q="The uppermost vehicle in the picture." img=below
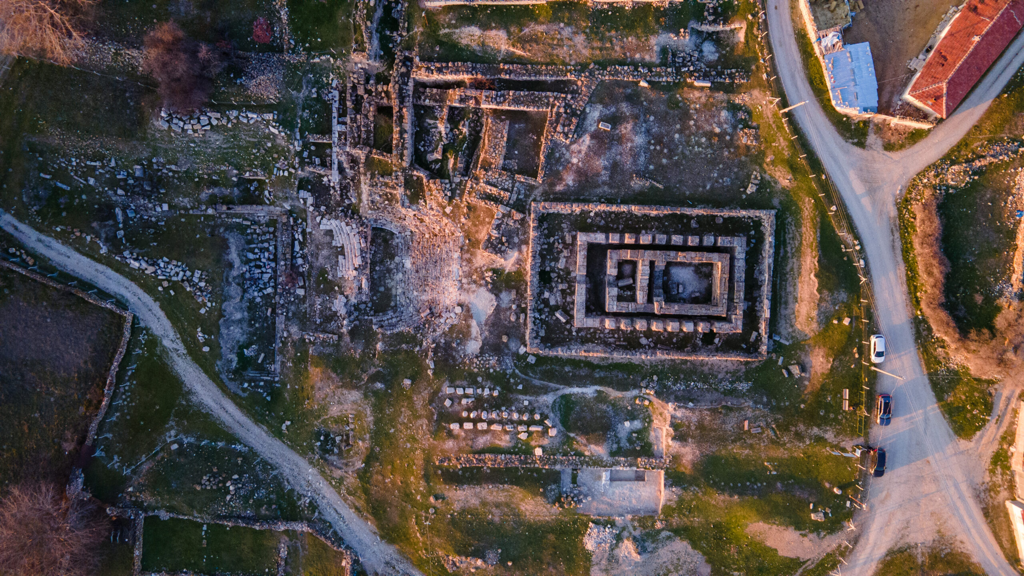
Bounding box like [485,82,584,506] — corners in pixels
[869,336,885,363]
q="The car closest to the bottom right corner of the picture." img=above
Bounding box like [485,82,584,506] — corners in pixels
[871,450,887,477]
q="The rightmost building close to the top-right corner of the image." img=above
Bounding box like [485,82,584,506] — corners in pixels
[899,0,1024,119]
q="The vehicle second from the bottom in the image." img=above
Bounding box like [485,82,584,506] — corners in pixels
[876,396,892,423]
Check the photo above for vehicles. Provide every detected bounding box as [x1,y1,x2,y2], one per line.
[869,336,885,363]
[876,396,892,423]
[871,450,887,477]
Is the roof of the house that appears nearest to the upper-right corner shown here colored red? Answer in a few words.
Yes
